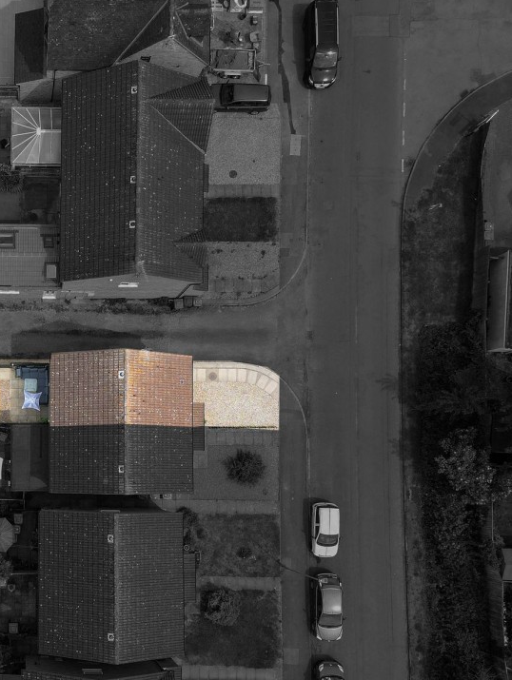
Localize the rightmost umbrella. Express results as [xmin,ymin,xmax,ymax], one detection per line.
[21,390,41,410]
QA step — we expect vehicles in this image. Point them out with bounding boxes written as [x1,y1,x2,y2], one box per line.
[308,501,341,558]
[302,0,342,89]
[212,81,273,116]
[311,658,347,680]
[310,572,345,640]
